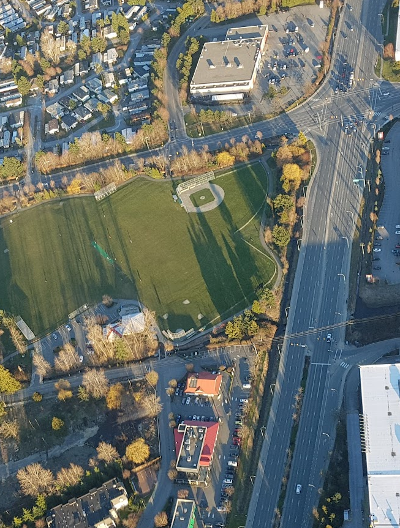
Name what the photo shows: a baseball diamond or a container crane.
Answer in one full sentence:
There is a baseball diamond in the scene.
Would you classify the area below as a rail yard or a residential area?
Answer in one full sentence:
This image shows a residential area.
